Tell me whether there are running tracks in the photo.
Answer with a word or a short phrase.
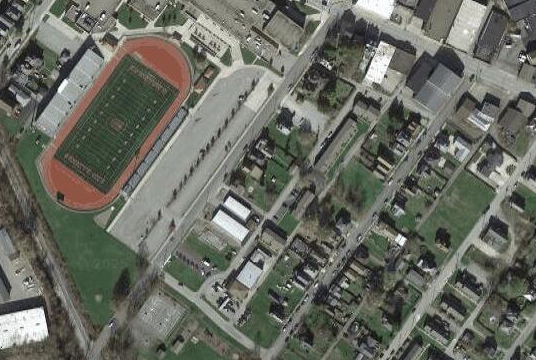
Yes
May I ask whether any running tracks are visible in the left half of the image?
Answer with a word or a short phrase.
Yes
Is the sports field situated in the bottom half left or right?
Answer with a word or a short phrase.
left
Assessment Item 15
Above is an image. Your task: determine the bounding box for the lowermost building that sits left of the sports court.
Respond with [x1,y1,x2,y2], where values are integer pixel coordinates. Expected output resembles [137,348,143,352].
[0,305,47,349]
